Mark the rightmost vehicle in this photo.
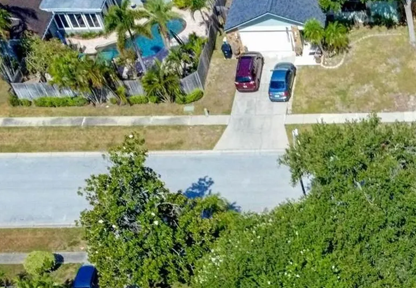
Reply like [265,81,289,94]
[268,64,296,99]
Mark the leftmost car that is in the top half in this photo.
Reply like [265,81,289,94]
[235,54,264,89]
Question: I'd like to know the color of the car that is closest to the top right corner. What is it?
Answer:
blue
